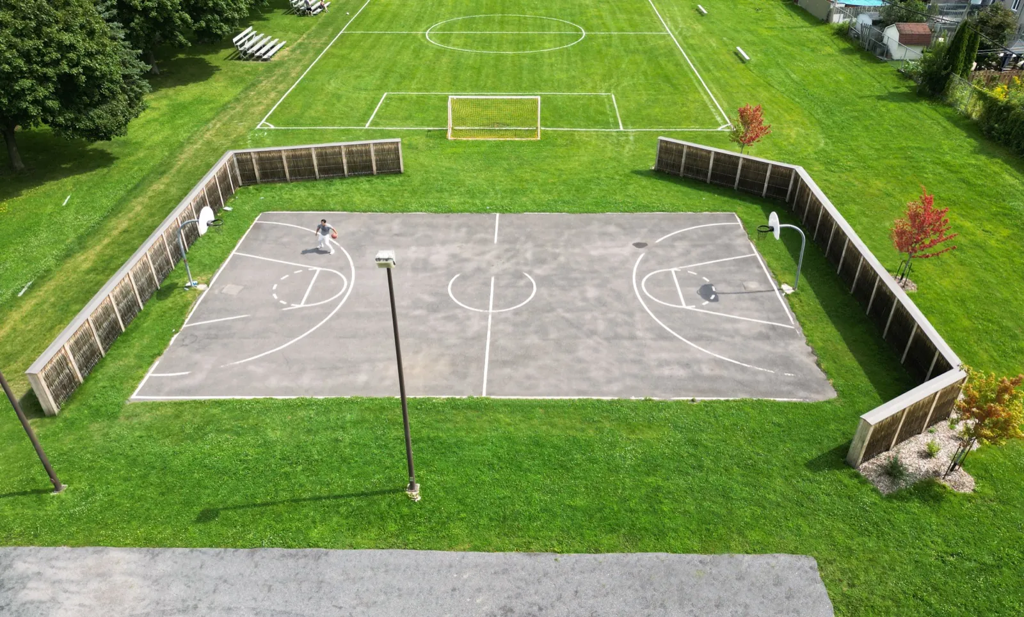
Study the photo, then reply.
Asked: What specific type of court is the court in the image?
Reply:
basketball court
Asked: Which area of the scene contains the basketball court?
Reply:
center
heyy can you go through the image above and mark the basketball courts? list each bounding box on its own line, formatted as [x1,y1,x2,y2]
[130,211,838,401]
